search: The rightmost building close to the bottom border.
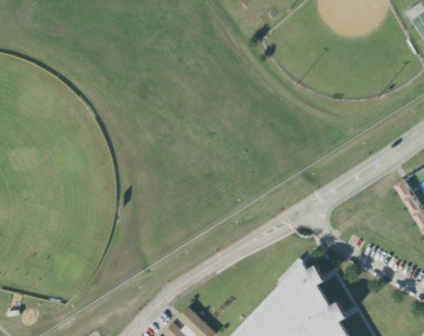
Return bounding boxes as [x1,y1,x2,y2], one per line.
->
[232,260,348,336]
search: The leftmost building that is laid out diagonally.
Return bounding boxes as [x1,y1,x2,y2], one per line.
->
[178,307,216,336]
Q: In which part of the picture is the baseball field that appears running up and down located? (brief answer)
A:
left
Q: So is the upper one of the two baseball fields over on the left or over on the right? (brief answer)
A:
right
